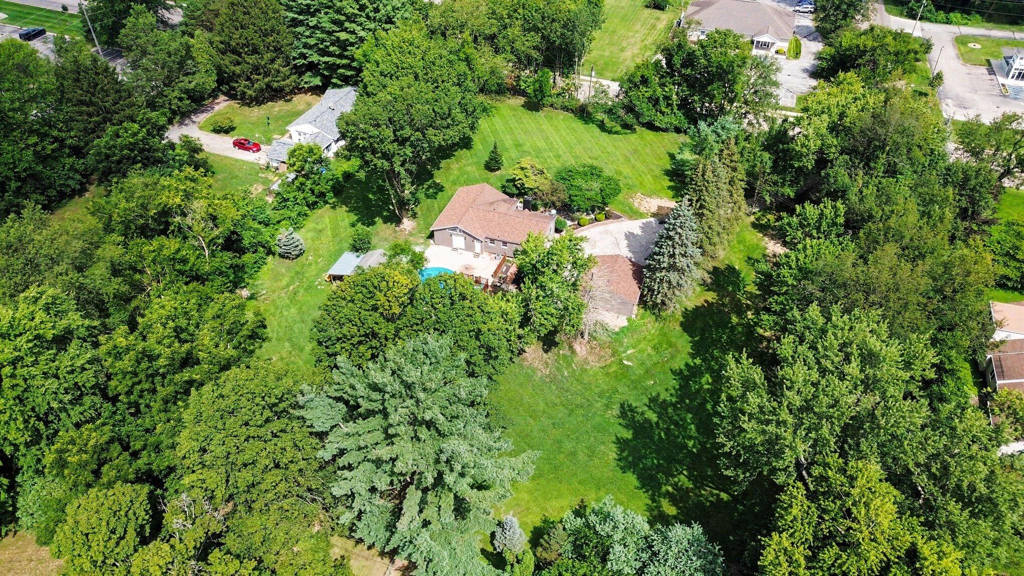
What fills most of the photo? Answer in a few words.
trees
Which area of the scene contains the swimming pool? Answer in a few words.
center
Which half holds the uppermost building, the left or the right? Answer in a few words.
right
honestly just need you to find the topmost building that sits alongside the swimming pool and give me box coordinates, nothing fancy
[428,182,559,258]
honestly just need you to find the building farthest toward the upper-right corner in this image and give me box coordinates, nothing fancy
[989,36,1024,86]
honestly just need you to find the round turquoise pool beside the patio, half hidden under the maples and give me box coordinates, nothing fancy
[414,269,477,307]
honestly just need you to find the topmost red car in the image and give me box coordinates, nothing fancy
[230,138,262,154]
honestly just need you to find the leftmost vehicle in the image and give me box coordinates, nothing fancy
[16,28,48,41]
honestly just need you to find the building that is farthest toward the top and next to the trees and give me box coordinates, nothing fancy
[679,0,797,49]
